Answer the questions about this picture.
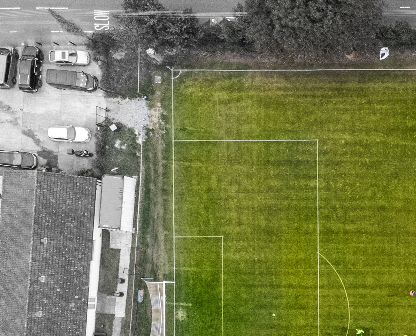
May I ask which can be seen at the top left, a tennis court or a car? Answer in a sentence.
Visible at the top left is a car.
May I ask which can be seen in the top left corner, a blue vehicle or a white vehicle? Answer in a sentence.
Looking in the top left corner, you will find a white vehicle.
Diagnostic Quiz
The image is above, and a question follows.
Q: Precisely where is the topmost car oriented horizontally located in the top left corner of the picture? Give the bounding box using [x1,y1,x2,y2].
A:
[49,46,91,65]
